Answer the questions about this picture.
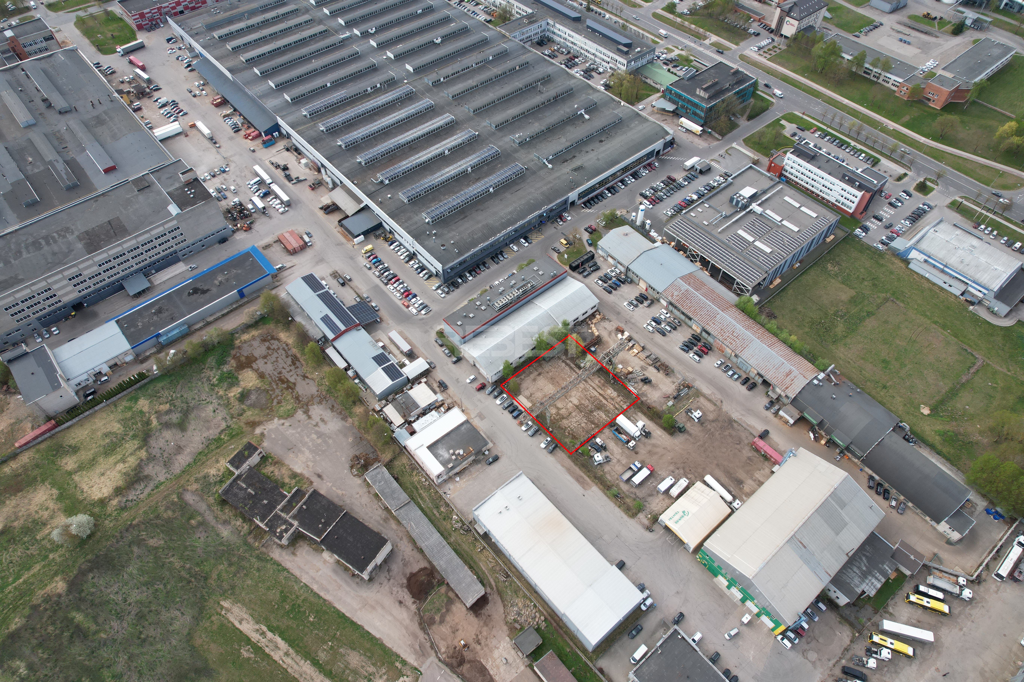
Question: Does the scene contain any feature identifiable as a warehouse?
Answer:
Yes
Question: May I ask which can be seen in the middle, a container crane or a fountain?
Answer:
container crane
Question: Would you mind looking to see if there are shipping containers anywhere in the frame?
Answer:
Yes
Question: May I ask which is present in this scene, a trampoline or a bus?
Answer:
bus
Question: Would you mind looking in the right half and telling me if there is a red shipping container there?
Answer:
Yes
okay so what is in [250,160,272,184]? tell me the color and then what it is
white truck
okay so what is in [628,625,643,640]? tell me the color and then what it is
black car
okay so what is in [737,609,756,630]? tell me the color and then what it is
white vehicle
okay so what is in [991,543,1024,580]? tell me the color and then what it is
white bus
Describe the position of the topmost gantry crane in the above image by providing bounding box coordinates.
[517,338,632,429]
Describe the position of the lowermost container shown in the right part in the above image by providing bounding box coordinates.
[749,437,786,464]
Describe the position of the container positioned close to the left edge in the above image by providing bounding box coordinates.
[0,427,45,456]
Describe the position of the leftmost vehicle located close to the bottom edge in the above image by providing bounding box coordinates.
[459,639,471,655]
